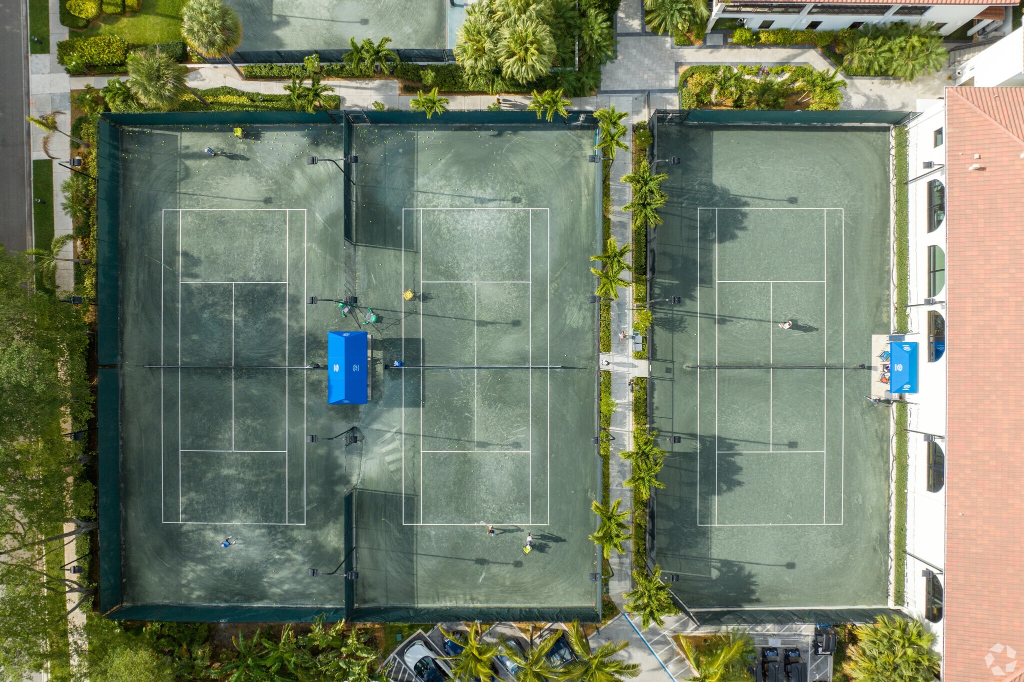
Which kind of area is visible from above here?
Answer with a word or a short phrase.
sports ground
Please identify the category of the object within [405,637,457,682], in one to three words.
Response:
car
